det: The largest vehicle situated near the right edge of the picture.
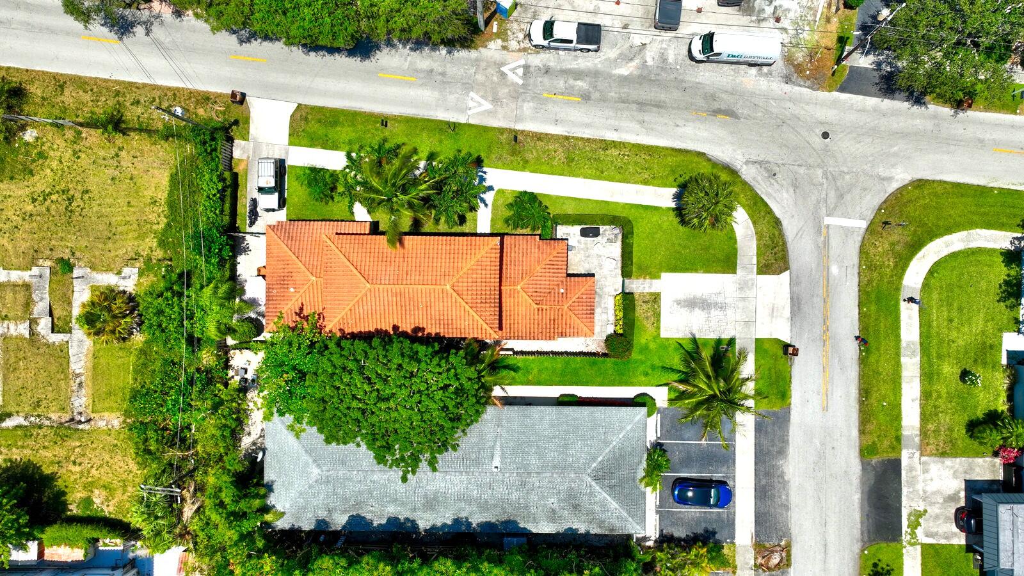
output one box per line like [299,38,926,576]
[949,507,981,535]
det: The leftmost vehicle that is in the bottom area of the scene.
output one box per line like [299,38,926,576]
[671,478,733,511]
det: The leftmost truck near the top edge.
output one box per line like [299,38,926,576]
[525,14,603,52]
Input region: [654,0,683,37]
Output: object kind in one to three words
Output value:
truck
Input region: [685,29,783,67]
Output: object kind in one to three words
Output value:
van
